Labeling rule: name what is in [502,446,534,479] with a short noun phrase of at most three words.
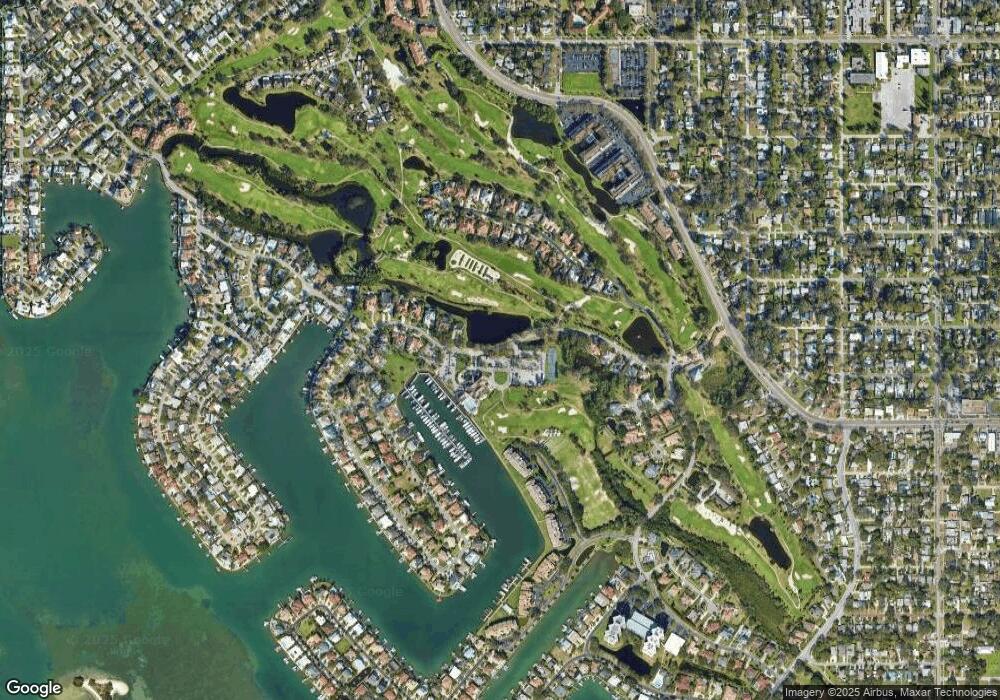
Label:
building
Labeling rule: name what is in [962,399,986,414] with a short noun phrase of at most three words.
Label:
building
